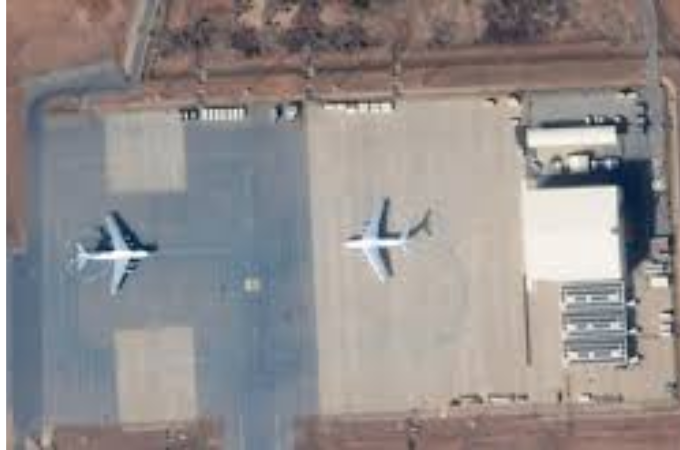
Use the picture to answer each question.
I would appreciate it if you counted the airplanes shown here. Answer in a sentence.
Looking from above, you can make out 2 airplanes.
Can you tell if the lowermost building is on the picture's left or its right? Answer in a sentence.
It is on the right.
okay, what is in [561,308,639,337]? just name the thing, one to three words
building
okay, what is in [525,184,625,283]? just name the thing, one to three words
hangar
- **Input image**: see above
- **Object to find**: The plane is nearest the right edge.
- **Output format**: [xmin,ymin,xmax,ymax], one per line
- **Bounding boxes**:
[340,203,408,282]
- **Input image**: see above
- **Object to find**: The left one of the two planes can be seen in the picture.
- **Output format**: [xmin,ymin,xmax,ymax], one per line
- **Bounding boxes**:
[75,215,149,295]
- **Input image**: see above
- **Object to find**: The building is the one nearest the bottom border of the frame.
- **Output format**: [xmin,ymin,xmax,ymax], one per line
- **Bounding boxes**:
[562,336,640,364]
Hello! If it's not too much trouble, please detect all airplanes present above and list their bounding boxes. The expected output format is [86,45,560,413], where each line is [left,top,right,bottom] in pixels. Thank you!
[75,215,149,295]
[340,203,408,282]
